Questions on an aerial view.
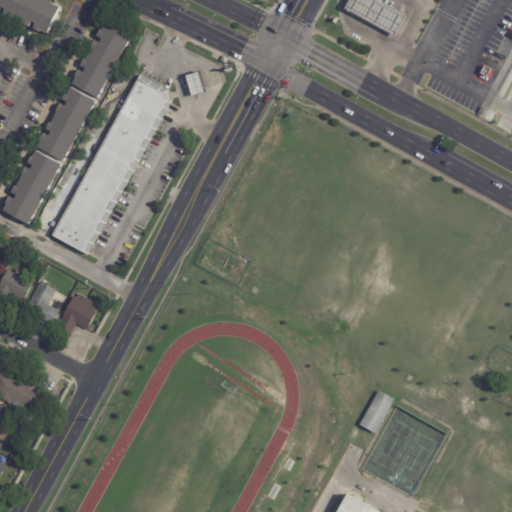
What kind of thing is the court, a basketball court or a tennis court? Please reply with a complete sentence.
Looking closely, the court is a tennis court.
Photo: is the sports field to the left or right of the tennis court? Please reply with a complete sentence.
The sports field can be seen on the left of the tennis court.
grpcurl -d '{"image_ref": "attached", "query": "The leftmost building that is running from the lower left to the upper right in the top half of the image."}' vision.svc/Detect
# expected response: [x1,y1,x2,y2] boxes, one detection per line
[4,152,62,224]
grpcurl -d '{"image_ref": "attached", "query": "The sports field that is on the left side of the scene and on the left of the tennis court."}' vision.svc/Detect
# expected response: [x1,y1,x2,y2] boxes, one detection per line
[95,334,286,512]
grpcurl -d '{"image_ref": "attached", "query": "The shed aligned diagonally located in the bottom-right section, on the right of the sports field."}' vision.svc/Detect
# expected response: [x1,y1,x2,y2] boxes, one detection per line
[360,392,394,432]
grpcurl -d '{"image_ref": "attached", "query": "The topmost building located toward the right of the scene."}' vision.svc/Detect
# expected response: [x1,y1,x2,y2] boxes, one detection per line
[344,0,408,36]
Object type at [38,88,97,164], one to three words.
building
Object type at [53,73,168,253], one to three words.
building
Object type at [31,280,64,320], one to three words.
house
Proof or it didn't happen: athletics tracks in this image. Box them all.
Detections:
[79,320,300,512]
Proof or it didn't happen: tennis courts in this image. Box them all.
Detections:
[362,406,446,494]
